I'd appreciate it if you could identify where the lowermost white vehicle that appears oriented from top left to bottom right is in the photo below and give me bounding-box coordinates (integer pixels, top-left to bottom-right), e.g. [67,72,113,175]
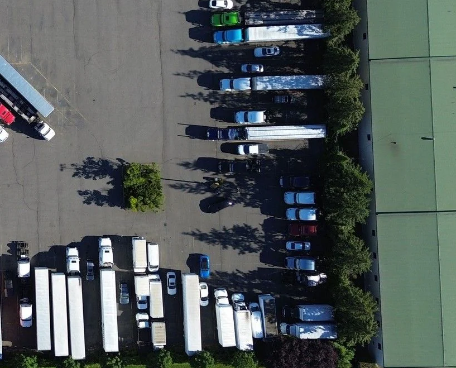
[21,111,54,143]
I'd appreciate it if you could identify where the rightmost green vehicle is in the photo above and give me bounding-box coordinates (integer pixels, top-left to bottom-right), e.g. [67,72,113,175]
[209,10,251,27]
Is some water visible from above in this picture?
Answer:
No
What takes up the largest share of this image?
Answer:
paved ground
